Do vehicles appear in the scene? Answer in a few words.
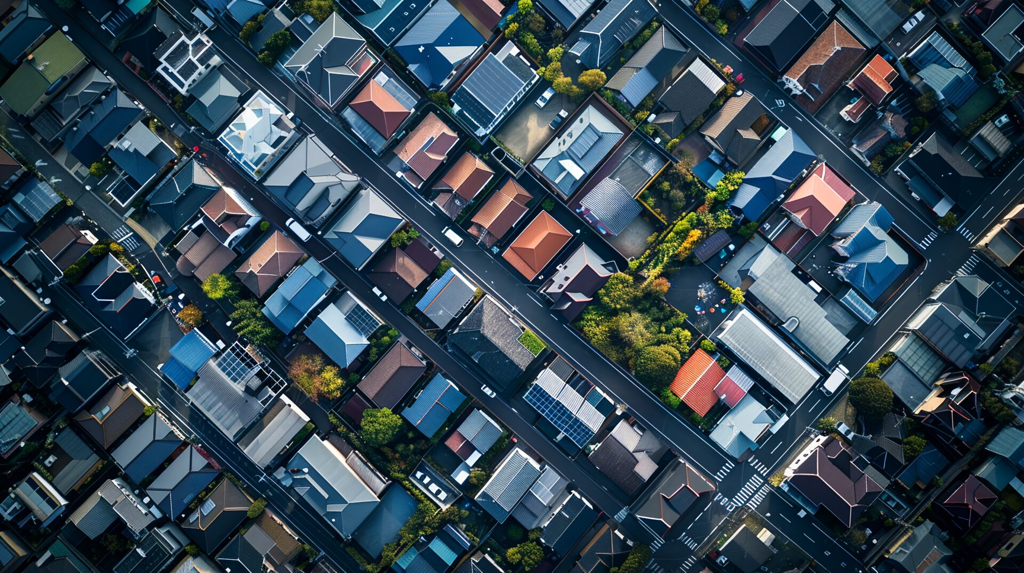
Yes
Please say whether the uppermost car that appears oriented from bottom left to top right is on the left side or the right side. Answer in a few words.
right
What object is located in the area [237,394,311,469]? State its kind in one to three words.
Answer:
building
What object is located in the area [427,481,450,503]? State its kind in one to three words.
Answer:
car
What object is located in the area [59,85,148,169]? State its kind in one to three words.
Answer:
house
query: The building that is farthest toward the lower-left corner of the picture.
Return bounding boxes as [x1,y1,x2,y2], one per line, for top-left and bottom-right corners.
[0,528,33,572]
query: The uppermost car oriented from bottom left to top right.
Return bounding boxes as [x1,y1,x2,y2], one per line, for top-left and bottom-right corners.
[900,10,927,35]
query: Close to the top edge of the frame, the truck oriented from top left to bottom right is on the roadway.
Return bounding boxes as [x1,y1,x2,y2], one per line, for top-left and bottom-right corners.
[187,2,217,31]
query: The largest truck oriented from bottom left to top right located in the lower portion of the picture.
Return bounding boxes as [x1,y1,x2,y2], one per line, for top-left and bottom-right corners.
[819,364,850,396]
